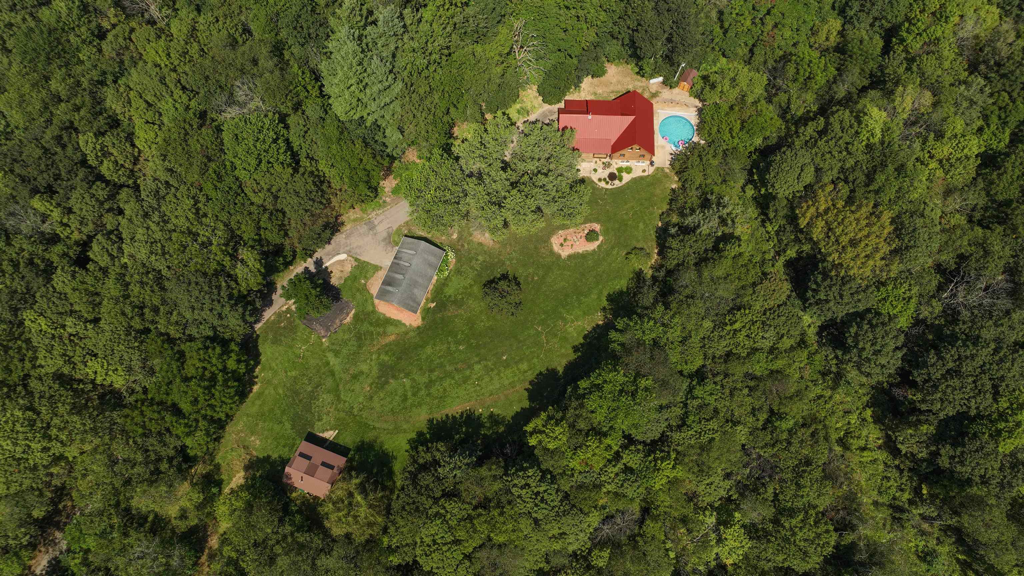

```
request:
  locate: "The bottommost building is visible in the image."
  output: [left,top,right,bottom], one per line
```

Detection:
[286,441,349,504]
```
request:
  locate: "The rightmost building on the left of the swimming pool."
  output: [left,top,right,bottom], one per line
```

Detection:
[558,91,655,164]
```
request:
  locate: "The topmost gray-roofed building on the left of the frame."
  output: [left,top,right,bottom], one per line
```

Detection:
[375,236,444,316]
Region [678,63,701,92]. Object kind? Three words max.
shed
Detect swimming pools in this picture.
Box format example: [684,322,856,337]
[658,114,696,153]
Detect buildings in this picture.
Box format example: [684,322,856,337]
[286,441,349,504]
[375,236,444,316]
[678,63,701,92]
[558,91,655,164]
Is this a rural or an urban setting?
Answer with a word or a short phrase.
rural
